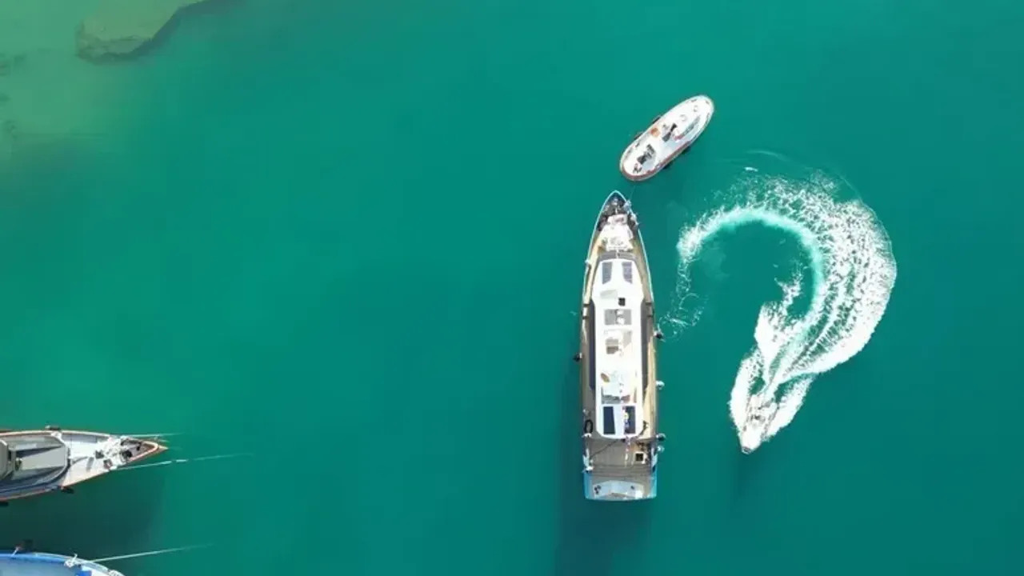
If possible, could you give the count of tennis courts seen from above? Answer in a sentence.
The photo contains no tennis courts.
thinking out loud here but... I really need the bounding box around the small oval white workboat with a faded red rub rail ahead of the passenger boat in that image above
[617,93,715,185]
